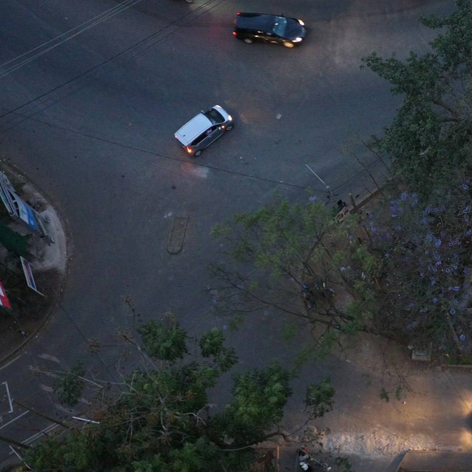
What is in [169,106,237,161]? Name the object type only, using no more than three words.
car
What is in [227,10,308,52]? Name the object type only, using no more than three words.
car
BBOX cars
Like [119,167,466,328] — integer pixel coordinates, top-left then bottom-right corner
[169,106,237,161]
[227,10,308,52]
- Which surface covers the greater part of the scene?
paved ground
